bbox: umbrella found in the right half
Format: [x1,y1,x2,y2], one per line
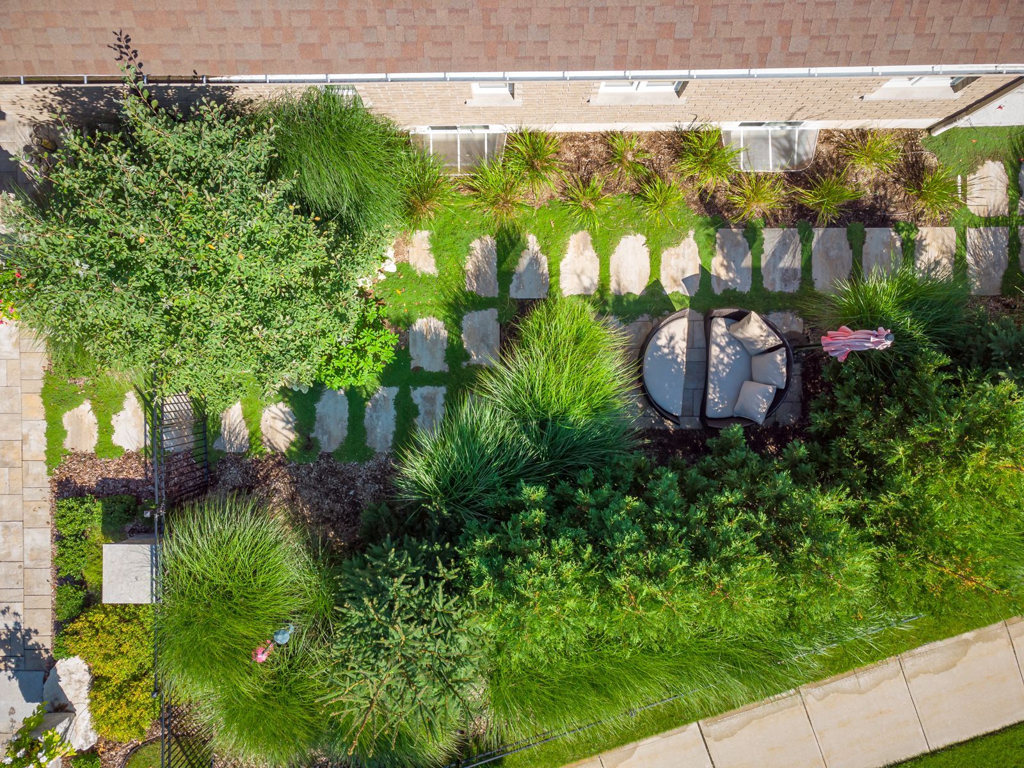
[788,323,891,364]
